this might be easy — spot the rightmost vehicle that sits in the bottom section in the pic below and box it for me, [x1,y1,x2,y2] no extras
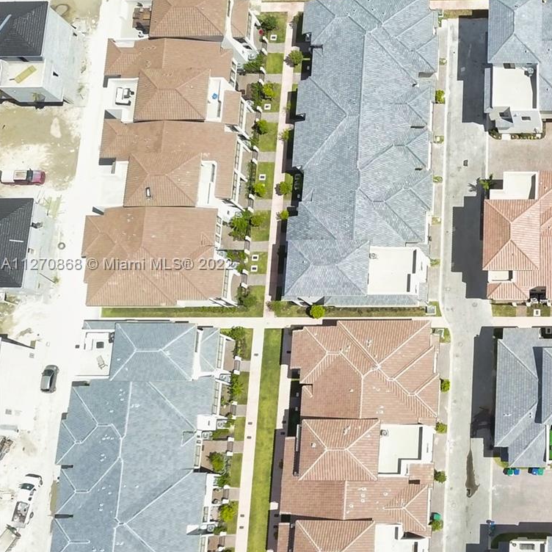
[39,363,63,397]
